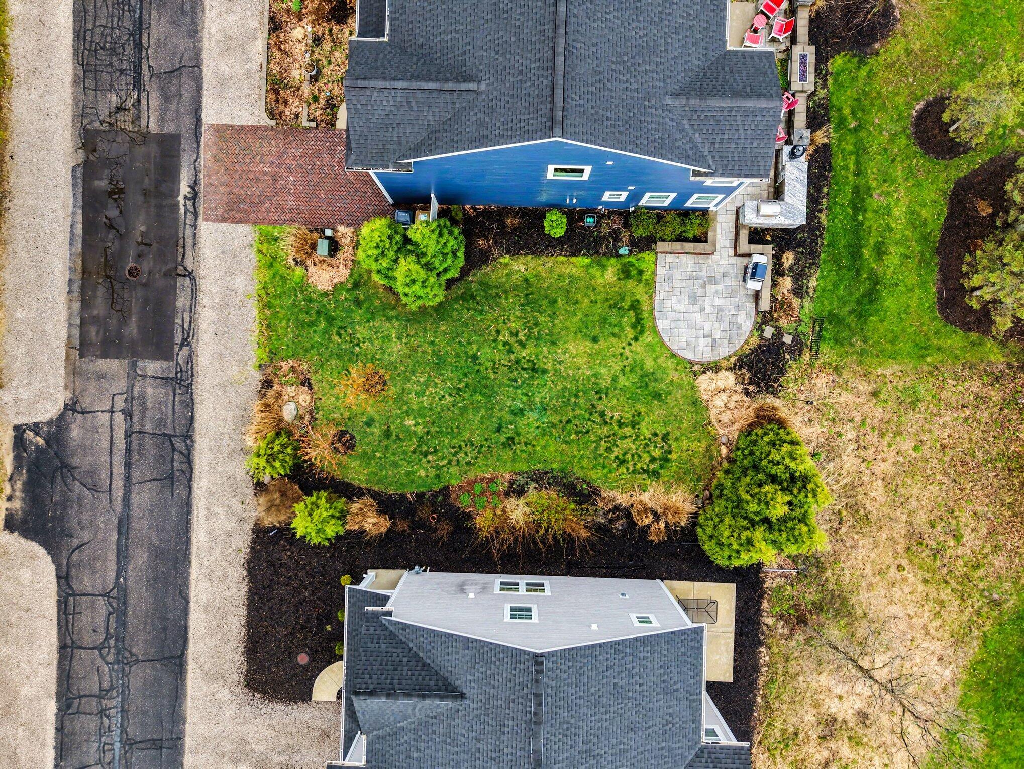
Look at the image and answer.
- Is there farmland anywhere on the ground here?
No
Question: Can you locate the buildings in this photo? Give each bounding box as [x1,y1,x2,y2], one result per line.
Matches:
[345,0,783,214]
[326,570,753,769]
